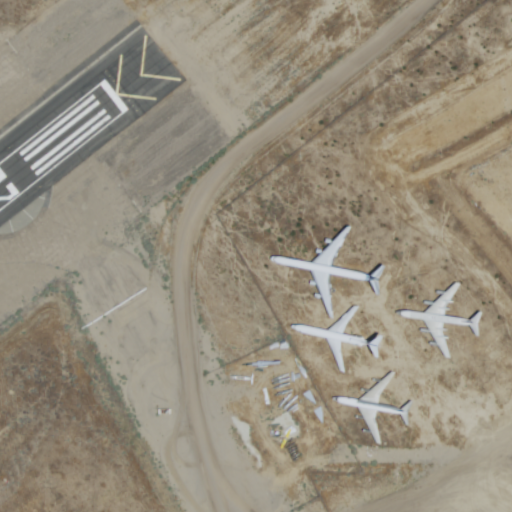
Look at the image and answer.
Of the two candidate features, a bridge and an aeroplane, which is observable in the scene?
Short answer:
aeroplane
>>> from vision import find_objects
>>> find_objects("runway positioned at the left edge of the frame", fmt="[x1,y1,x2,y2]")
[0,20,186,234]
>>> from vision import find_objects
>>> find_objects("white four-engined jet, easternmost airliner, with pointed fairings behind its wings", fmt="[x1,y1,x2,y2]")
[398,282,482,358]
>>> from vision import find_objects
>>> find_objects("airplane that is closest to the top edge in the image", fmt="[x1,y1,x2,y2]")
[271,226,385,318]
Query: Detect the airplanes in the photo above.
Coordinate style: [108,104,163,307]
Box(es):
[333,373,414,446]
[271,226,385,318]
[242,358,281,368]
[292,306,383,373]
[398,282,482,358]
